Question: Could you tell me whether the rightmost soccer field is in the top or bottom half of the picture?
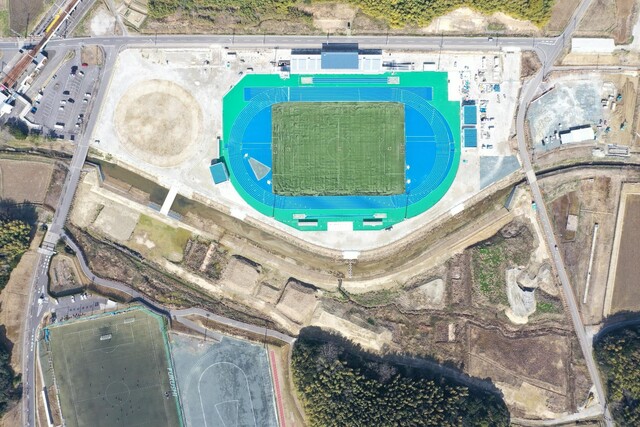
top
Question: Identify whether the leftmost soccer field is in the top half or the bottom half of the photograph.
bottom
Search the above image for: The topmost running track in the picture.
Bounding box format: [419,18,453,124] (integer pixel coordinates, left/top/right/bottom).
[222,72,460,231]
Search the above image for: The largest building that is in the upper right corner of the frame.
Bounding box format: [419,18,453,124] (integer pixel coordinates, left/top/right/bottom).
[569,38,615,54]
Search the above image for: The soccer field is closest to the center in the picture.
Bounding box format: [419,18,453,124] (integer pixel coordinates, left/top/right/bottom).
[272,102,405,194]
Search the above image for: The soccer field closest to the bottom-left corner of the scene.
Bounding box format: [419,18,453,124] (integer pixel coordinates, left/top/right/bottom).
[48,306,189,427]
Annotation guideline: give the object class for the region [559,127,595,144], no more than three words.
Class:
building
